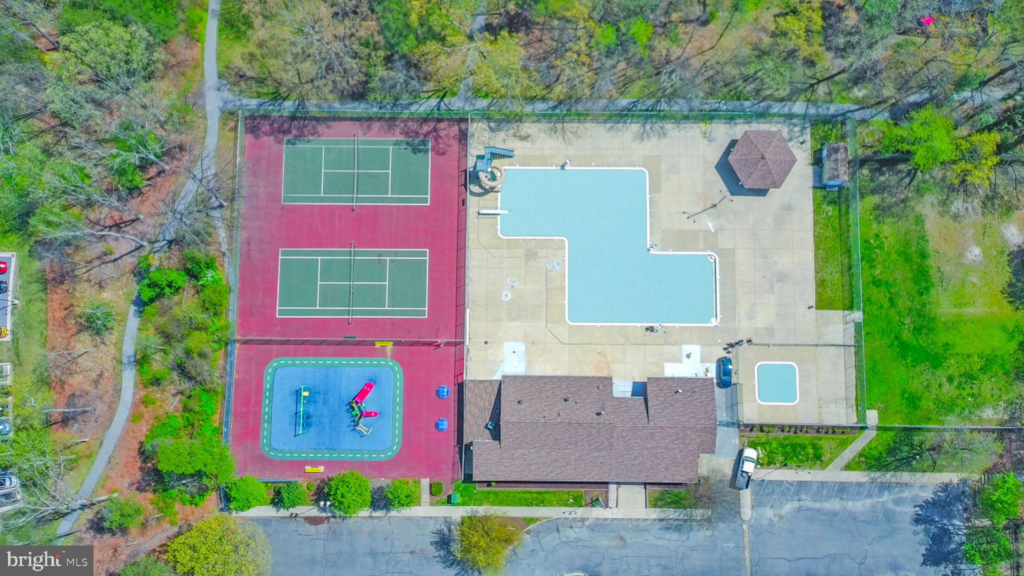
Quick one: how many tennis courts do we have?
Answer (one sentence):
In total, 2 tennis courts can be seen.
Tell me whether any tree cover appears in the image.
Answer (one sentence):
Yes, there's tree cover in this view.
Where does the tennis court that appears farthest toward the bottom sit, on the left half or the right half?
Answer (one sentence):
It is on the left.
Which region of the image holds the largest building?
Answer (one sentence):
The largest building sits in the bottom section of the image.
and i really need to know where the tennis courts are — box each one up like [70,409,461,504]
[277,248,429,318]
[282,138,431,205]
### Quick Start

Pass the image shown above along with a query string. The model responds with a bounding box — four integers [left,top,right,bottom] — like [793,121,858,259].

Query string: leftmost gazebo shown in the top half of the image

[728,130,797,188]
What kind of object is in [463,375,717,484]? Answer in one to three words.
building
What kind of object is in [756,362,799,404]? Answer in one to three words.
swimming pool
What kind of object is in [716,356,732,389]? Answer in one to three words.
car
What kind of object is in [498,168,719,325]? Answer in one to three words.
swimming pool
